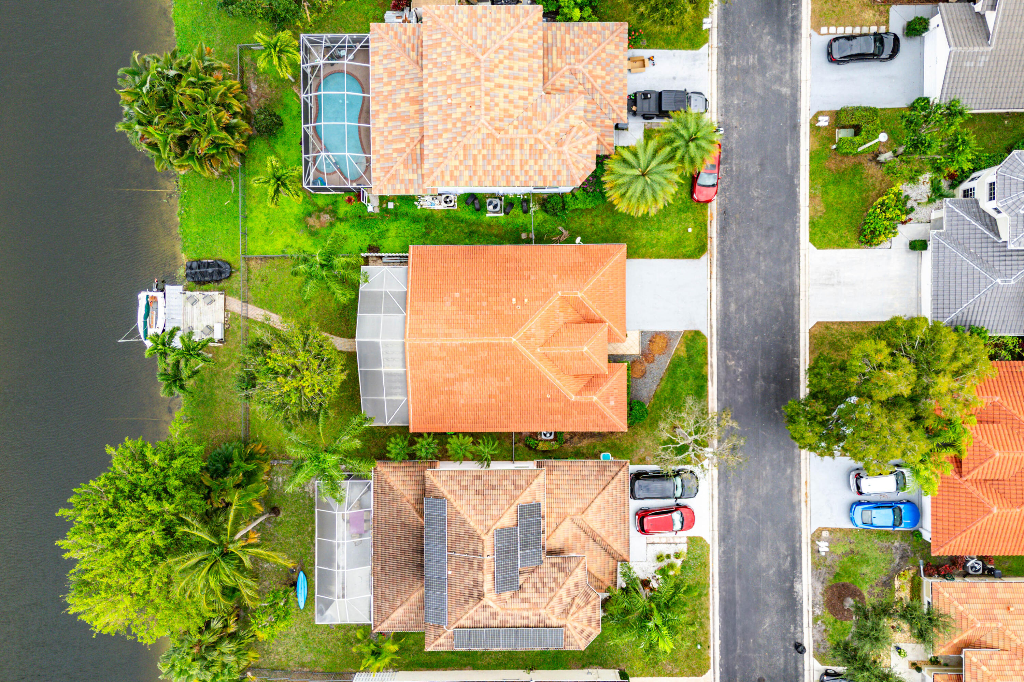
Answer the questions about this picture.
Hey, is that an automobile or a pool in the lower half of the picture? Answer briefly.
automobile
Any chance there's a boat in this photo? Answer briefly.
Yes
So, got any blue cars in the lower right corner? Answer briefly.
Yes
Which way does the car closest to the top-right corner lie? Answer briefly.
from left to right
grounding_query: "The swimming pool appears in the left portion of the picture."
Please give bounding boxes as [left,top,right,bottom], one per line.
[312,68,370,183]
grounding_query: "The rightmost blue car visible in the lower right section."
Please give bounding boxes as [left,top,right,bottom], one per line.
[849,499,919,532]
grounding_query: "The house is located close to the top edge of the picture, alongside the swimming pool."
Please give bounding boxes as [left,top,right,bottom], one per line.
[369,3,629,197]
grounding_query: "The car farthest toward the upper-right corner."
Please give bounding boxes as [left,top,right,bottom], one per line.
[825,30,896,68]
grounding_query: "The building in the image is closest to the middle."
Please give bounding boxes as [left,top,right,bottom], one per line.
[403,242,629,434]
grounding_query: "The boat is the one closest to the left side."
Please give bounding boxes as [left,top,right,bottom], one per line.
[116,268,161,345]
